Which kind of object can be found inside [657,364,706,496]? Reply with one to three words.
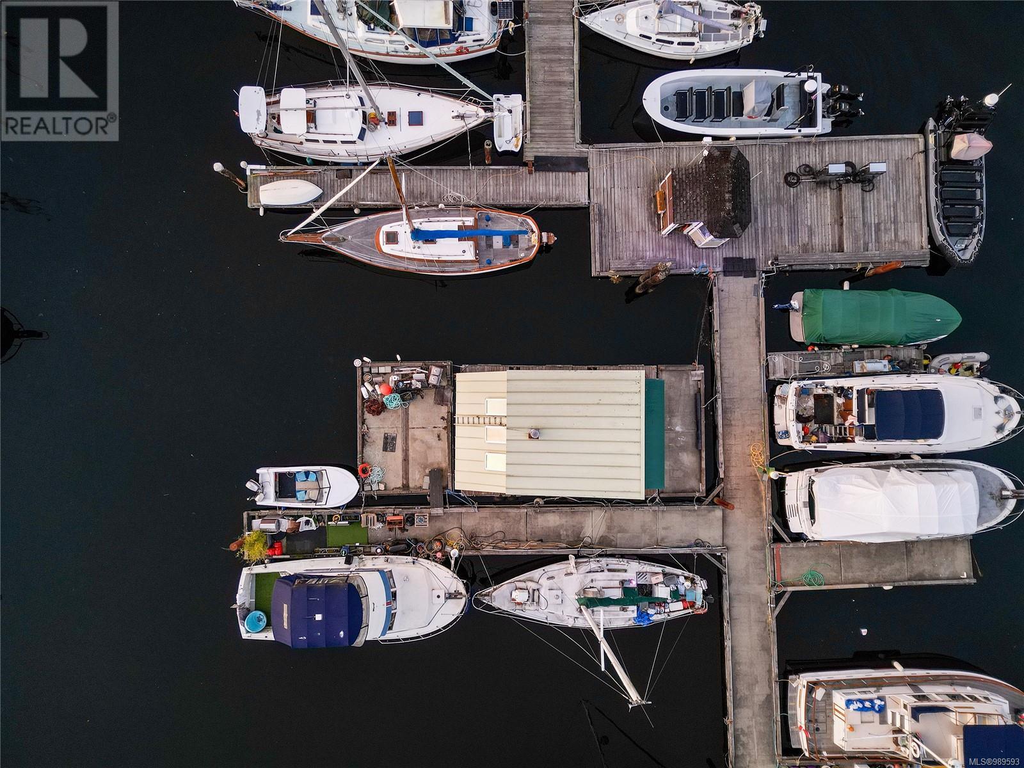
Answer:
pier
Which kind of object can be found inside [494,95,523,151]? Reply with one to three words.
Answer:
boat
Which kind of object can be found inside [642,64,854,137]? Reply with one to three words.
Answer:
boat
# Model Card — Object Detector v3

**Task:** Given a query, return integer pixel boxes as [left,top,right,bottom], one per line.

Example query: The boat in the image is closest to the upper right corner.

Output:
[907,83,1012,267]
